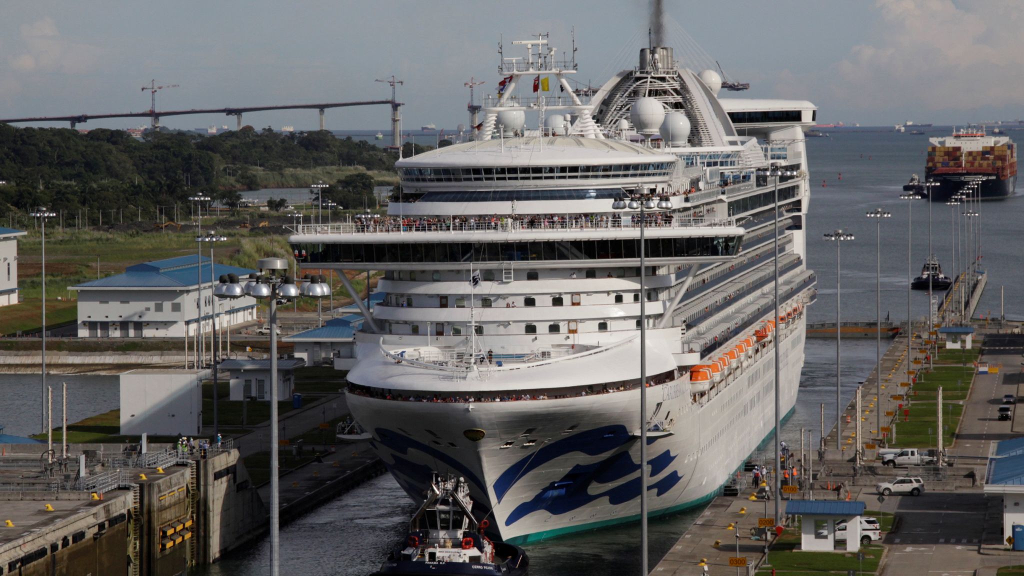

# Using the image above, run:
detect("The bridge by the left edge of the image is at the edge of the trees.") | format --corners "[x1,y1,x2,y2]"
[0,99,405,165]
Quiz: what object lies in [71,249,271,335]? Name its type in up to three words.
building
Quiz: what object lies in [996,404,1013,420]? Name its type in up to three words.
car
